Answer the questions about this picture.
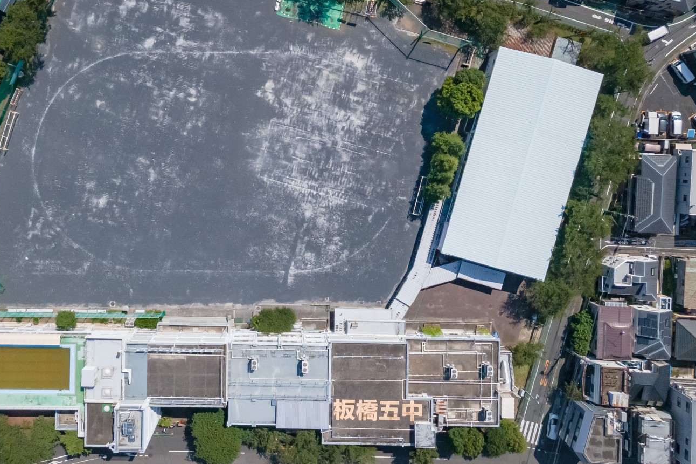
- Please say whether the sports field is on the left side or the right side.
left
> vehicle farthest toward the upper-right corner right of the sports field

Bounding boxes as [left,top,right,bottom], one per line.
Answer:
[645,22,670,40]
